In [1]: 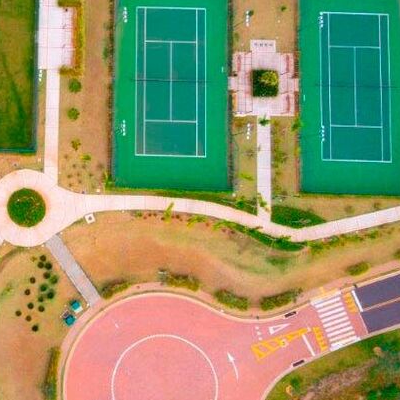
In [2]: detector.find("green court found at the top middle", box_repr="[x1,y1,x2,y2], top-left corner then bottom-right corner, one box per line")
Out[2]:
[115,0,230,191]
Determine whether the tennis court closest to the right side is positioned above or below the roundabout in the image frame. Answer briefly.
above it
